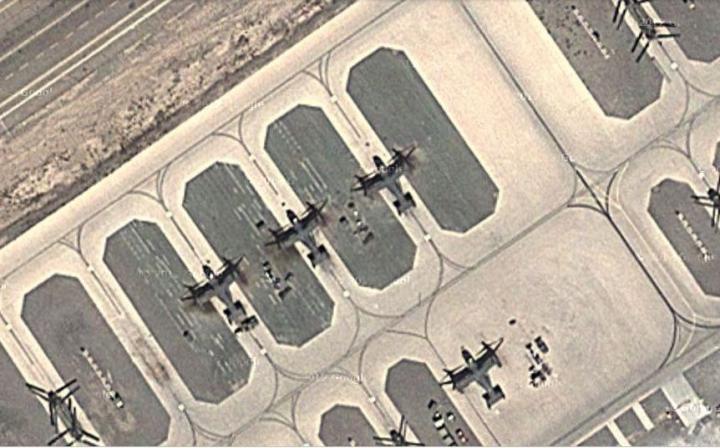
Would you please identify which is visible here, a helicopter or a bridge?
helicopter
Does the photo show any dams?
No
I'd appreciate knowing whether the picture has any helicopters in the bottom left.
Yes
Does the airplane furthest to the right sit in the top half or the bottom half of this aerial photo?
bottom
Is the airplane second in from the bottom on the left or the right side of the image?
left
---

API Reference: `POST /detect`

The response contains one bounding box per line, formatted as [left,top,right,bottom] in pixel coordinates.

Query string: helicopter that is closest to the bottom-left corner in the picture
[28,387,101,448]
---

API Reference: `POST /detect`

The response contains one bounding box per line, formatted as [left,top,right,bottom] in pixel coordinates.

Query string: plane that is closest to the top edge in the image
[348,149,417,215]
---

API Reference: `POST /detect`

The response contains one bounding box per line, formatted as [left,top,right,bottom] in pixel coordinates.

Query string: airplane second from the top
[262,202,331,268]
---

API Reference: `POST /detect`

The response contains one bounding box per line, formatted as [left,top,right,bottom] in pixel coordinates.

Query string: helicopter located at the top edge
[618,0,681,61]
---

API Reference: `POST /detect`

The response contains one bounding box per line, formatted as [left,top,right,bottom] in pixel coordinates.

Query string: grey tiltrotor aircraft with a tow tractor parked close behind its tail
[178,257,246,324]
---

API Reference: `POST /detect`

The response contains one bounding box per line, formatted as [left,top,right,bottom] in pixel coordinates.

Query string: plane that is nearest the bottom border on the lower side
[438,340,506,408]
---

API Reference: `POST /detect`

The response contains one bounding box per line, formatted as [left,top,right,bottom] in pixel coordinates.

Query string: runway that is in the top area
[0,0,174,122]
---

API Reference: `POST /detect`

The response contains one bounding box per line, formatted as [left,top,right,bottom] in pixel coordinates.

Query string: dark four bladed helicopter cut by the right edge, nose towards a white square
[693,191,720,233]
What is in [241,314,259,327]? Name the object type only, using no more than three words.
vehicle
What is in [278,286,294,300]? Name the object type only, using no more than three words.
work vehicle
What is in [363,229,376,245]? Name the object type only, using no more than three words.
vehicle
